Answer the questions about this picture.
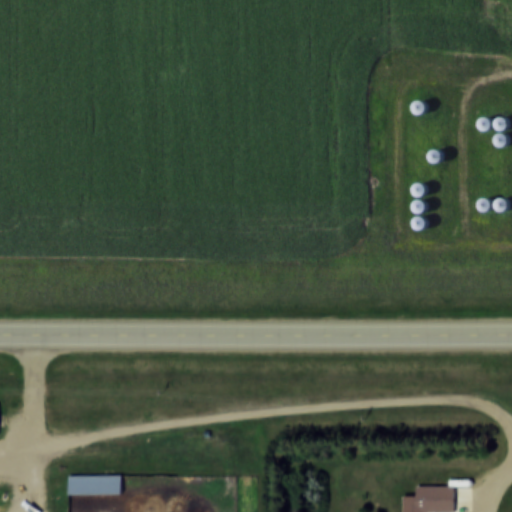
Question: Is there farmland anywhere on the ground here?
Yes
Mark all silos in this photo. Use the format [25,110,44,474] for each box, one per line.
[492,132,512,148]
[410,198,430,214]
[493,197,512,212]
[493,116,512,132]
[476,197,494,212]
[410,216,430,231]
[410,100,430,116]
[410,182,430,198]
[476,116,495,132]
[427,148,446,164]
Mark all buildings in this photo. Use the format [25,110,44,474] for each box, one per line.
[68,476,123,496]
[403,487,455,512]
